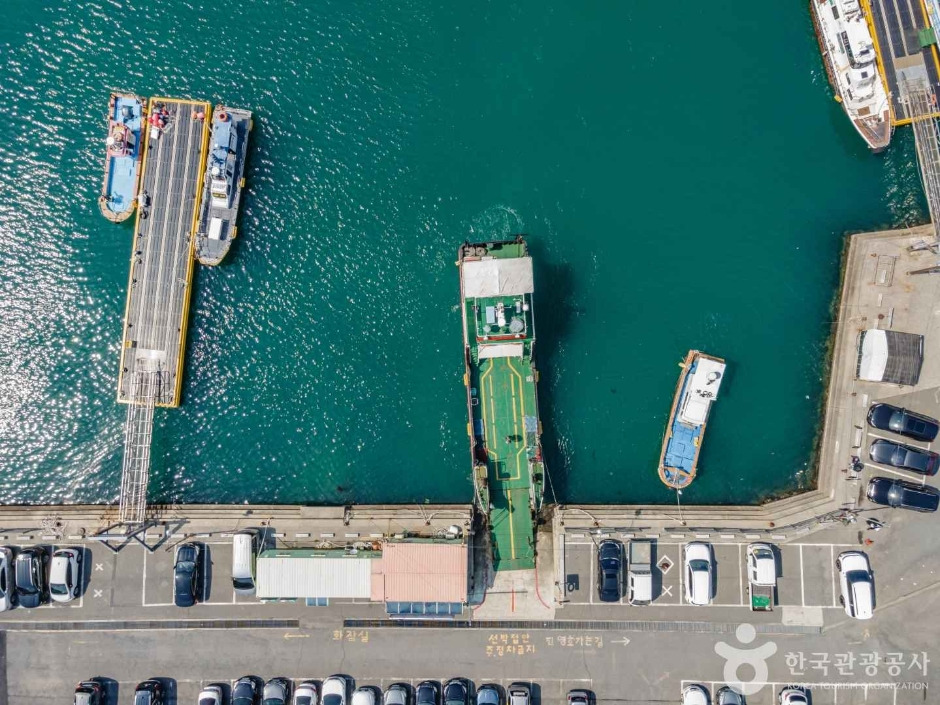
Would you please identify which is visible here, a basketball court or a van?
van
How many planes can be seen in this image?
0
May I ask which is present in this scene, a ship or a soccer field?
ship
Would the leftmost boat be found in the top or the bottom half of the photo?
top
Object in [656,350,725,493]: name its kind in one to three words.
boat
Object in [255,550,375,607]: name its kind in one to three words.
building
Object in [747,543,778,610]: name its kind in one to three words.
truck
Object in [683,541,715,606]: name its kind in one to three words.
car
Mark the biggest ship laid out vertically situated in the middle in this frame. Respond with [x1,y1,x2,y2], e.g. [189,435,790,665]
[454,233,544,572]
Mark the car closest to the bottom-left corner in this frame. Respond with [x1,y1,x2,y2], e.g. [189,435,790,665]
[75,678,106,705]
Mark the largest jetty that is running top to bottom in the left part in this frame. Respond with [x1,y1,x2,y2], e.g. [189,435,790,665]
[117,96,215,408]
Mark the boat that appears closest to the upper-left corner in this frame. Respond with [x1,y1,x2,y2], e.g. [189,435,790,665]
[98,91,148,223]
